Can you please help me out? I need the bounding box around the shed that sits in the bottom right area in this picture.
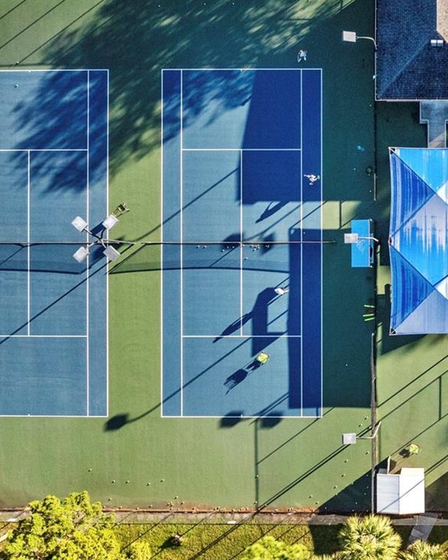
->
[376,467,424,516]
